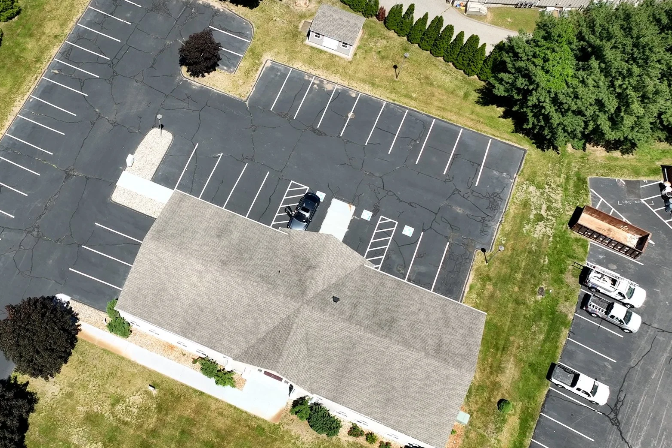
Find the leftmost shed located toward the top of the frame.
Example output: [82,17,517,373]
[308,2,365,56]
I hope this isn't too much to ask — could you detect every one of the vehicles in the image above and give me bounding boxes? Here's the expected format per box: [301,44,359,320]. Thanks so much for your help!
[583,293,644,334]
[548,363,610,406]
[583,265,645,310]
[285,191,320,231]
